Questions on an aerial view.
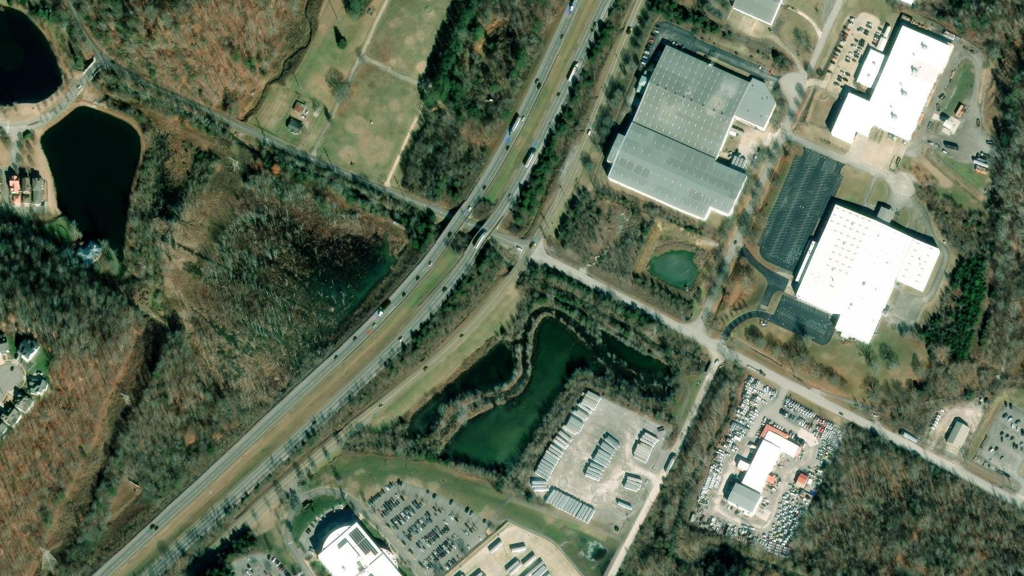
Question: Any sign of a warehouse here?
Yes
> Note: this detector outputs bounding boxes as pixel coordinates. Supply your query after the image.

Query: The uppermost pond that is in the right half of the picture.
[648,250,699,289]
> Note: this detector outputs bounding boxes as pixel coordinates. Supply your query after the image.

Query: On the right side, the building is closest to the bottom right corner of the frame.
[947,421,969,449]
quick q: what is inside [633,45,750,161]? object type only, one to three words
warehouse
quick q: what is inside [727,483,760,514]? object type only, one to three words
barn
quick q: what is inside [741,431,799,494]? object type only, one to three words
building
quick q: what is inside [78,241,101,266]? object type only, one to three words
house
